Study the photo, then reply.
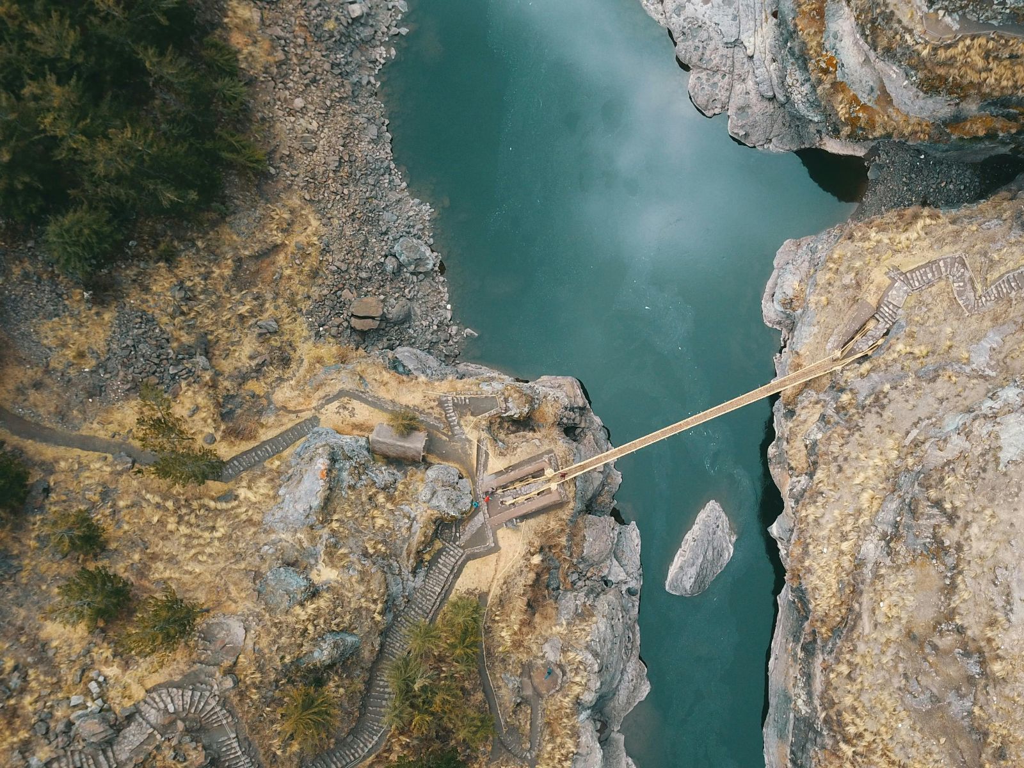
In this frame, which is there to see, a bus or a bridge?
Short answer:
bridge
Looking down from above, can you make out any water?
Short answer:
Yes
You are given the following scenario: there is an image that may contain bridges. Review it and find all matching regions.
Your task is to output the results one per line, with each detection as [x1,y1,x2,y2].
[496,317,876,505]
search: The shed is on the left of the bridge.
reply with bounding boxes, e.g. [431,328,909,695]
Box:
[370,423,427,463]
